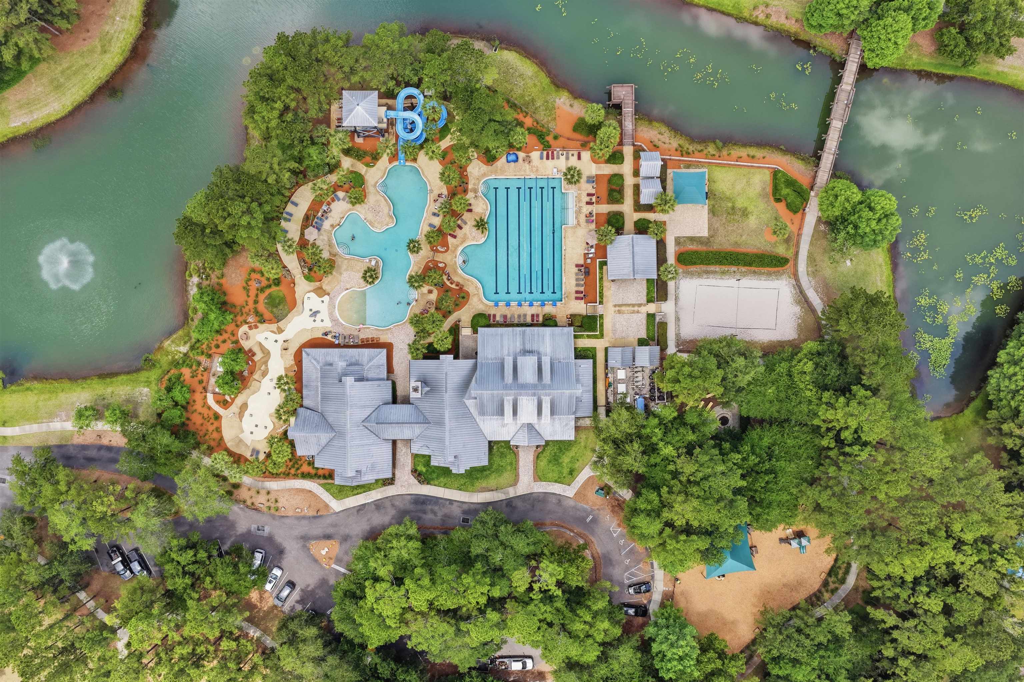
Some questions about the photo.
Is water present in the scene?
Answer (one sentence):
Yes, water shows up in the scene.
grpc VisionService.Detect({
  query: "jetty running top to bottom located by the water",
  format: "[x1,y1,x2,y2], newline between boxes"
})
[608,82,638,146]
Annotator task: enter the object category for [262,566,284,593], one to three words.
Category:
car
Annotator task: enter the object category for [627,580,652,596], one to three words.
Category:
car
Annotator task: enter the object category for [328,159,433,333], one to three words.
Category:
swimming pool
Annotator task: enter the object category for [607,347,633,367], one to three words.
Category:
shed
